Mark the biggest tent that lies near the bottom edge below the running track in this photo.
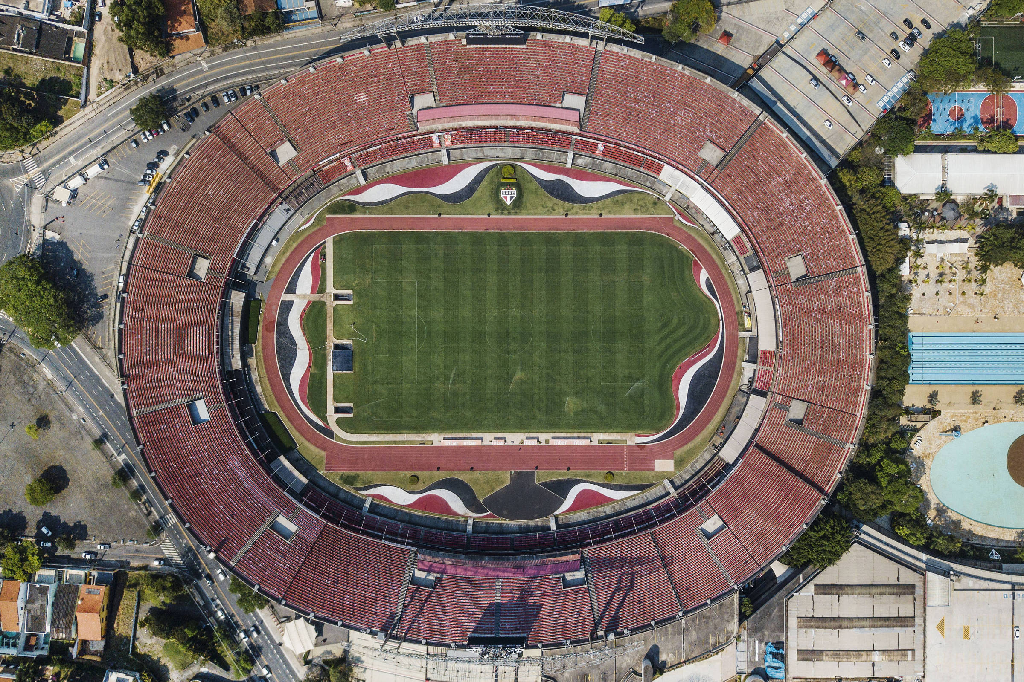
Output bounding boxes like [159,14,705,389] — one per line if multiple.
[282,618,320,652]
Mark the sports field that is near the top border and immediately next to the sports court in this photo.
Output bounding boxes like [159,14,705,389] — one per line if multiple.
[974,22,1024,79]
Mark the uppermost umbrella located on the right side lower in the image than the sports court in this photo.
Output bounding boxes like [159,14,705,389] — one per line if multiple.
[942,201,959,218]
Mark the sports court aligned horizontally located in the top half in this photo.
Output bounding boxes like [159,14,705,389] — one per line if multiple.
[914,90,1024,136]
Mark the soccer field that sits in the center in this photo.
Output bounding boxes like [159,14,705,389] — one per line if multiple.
[303,231,719,444]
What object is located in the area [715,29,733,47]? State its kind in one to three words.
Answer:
gazebo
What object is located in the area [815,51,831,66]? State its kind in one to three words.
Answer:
gazebo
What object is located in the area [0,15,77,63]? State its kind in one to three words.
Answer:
house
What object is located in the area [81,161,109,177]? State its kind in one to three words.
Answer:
vehicle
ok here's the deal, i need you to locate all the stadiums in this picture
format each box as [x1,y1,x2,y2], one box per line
[119,26,881,655]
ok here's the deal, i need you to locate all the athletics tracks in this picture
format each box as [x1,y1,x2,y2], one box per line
[262,214,739,471]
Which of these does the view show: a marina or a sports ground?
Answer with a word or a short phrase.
sports ground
